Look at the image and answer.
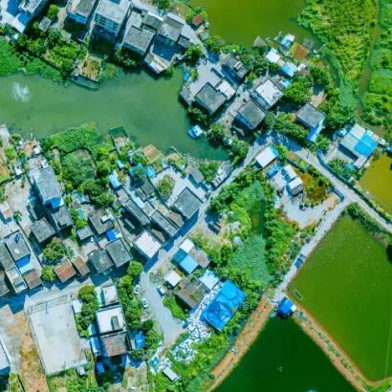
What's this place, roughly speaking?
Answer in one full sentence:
The area seen from above is a residential area.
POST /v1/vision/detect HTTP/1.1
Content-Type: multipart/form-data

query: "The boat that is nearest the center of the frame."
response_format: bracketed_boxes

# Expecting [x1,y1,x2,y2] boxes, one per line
[188,124,203,137]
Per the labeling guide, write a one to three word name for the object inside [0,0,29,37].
house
